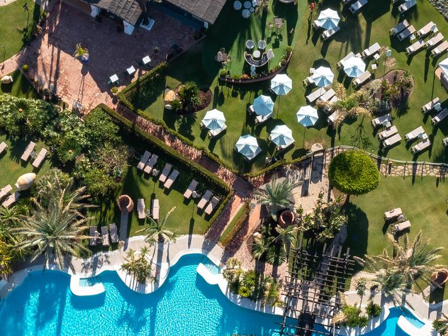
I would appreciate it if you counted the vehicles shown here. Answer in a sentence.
No vehicles are visible.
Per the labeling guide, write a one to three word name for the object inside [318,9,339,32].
umbrella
